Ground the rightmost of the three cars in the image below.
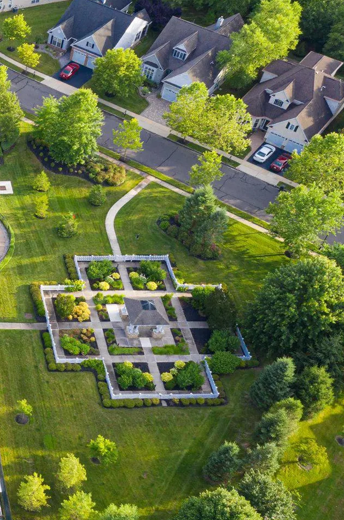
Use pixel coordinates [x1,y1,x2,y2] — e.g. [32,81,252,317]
[270,153,293,171]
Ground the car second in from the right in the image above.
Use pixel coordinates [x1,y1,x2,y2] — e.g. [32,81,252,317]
[253,143,276,162]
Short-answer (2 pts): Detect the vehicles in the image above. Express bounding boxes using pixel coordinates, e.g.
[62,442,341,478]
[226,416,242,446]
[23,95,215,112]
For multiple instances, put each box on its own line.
[60,63,81,78]
[270,153,293,171]
[253,143,276,162]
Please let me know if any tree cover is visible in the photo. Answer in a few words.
Yes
